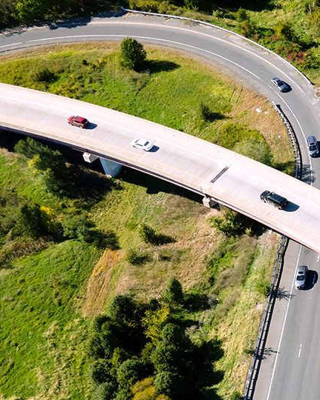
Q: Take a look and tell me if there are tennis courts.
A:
No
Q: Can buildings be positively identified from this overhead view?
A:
No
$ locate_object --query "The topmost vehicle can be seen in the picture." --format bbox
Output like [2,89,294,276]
[272,77,290,93]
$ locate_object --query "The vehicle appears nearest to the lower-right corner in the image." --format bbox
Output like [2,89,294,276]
[294,264,310,289]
